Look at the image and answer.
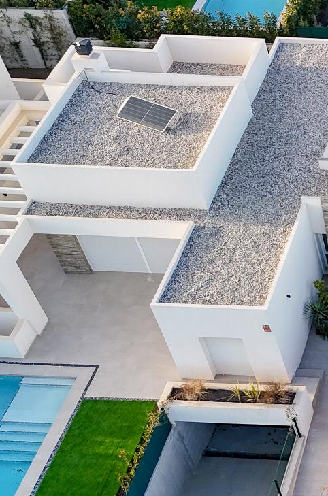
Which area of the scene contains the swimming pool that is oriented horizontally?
top right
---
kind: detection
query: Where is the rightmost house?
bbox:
[23,38,328,379]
